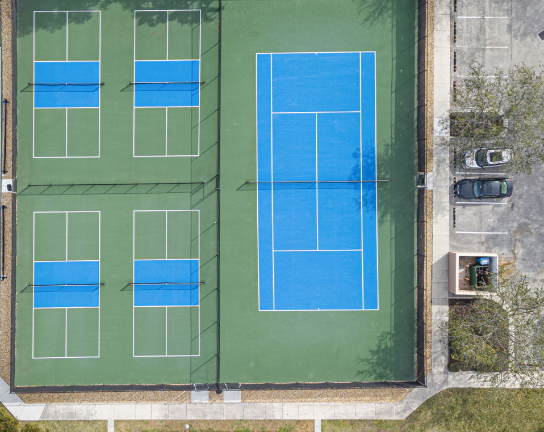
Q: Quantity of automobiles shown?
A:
2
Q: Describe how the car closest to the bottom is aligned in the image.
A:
horizontally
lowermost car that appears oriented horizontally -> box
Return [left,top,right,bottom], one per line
[458,177,512,201]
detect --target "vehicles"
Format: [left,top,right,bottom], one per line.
[458,177,512,201]
[462,146,514,171]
